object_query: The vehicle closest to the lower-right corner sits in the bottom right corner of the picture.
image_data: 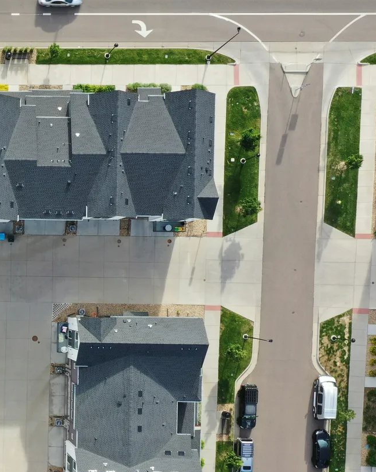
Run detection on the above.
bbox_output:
[310,426,331,468]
